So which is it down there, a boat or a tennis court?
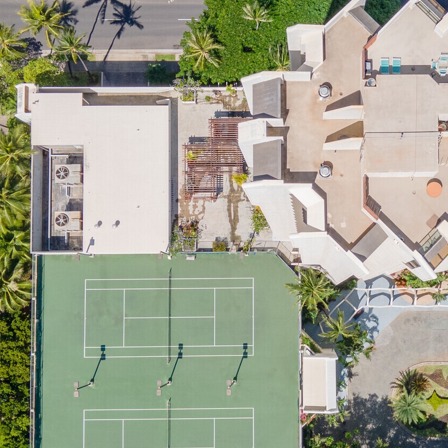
tennis court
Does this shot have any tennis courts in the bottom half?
Yes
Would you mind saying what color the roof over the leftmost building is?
white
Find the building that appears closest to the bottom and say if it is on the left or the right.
right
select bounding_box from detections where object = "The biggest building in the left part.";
[15,83,176,256]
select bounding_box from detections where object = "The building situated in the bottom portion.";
[304,336,338,414]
